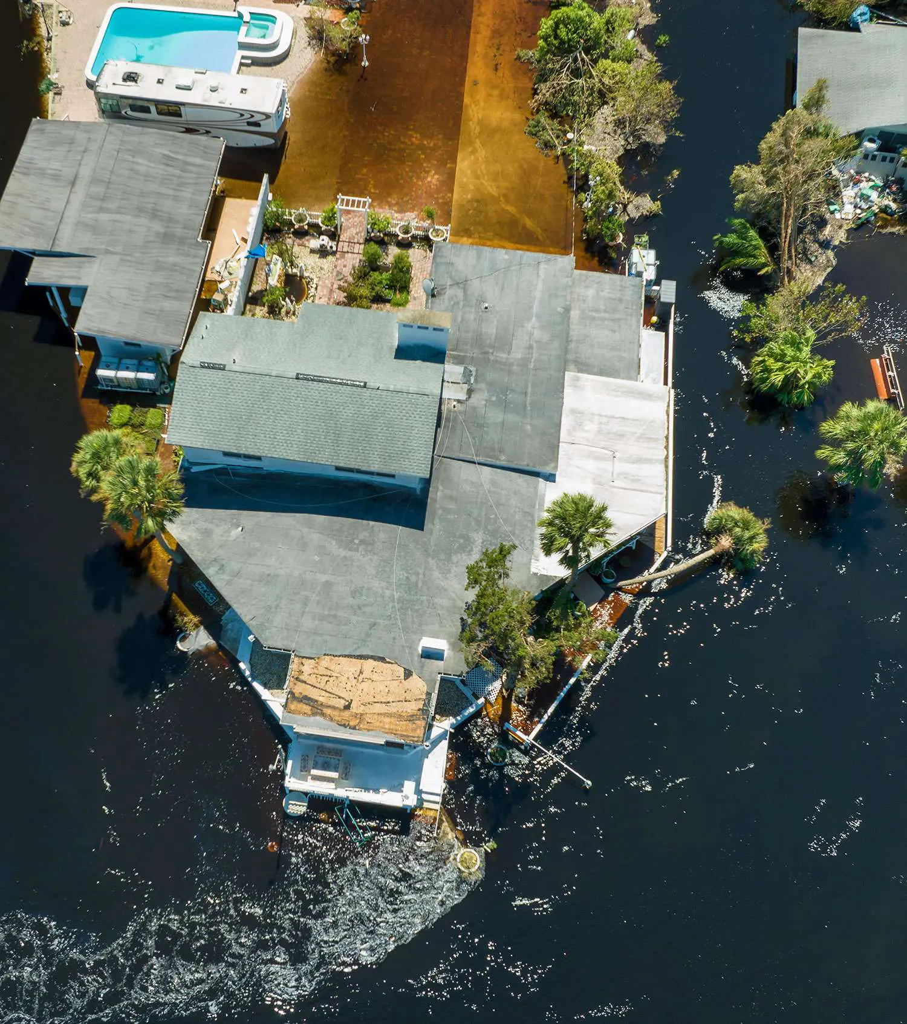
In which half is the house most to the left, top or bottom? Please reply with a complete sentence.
The house most to the left is in the top half of the image.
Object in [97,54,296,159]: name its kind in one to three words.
camper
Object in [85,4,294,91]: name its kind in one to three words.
swimming pool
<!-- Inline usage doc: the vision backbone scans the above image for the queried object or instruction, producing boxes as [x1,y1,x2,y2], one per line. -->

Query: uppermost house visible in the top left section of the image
[0,118,229,371]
